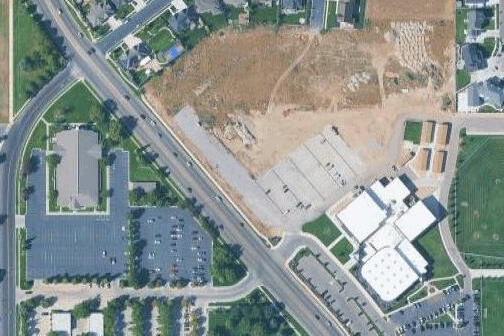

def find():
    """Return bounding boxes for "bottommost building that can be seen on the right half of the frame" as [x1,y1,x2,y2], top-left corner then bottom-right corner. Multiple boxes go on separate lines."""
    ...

[337,177,436,302]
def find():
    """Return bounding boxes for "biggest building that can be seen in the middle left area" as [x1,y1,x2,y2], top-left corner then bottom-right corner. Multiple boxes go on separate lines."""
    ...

[53,127,101,211]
